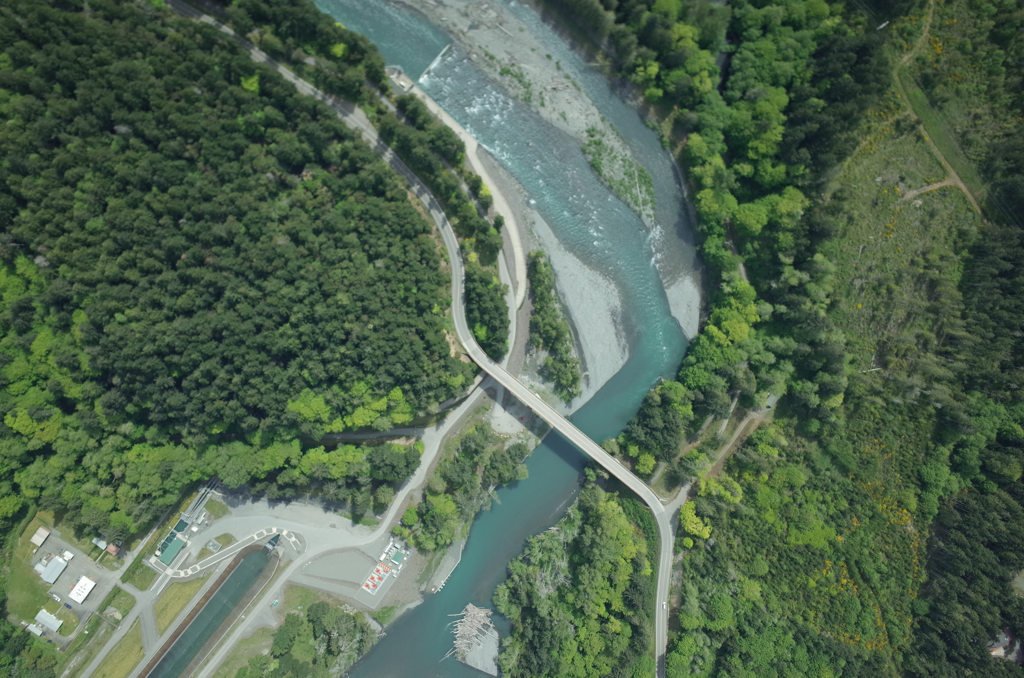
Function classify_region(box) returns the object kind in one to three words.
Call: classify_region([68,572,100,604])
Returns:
building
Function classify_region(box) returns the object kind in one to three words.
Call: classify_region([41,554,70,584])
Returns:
building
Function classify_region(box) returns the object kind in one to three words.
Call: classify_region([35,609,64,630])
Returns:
house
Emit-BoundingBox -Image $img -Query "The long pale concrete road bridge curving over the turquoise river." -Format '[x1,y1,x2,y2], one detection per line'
[459,333,668,518]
